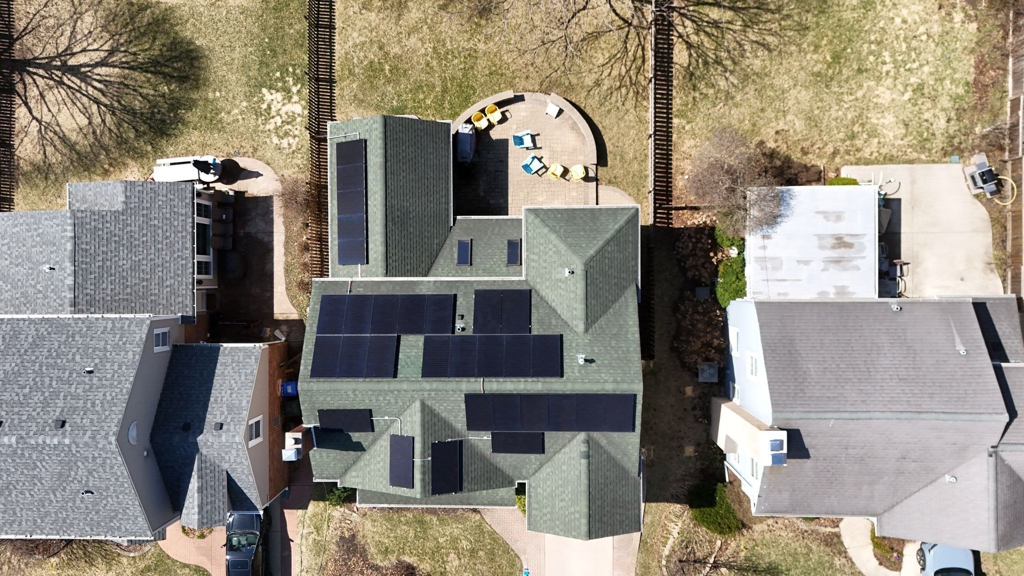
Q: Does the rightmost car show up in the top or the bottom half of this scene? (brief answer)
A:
bottom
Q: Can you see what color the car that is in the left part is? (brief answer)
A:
black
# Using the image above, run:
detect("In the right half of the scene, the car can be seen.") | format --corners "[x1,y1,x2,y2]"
[918,543,973,576]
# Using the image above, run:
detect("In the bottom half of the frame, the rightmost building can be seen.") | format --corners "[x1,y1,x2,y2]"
[709,159,1024,552]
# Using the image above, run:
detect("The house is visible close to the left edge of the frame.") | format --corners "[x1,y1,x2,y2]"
[0,180,290,543]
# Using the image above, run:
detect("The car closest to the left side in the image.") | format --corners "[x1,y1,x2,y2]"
[218,508,273,576]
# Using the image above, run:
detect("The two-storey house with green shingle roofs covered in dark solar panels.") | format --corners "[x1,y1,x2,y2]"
[282,115,645,540]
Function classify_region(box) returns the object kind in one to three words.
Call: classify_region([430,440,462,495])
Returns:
solar panel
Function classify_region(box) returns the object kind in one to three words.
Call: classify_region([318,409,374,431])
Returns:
solar panel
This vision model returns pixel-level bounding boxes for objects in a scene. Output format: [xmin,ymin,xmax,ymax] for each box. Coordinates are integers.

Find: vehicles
[918,543,973,576]
[218,508,273,576]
